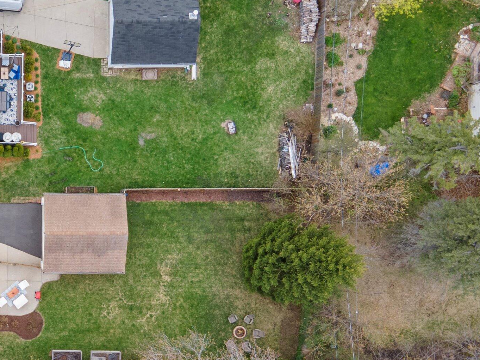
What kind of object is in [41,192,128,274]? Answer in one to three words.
building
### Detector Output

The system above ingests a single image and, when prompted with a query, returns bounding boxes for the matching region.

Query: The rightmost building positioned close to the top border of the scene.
[106,0,200,89]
